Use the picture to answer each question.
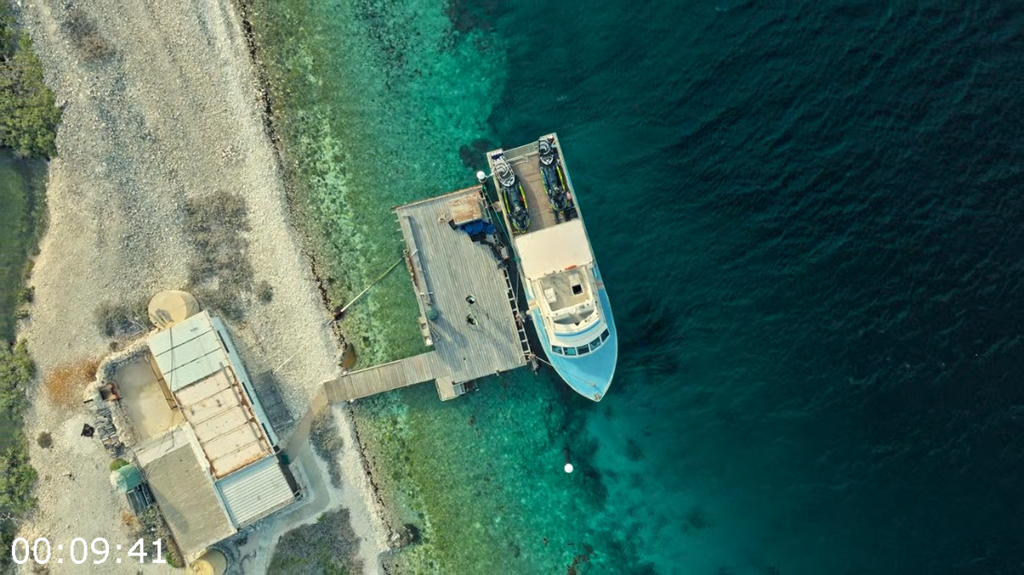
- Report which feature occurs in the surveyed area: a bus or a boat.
boat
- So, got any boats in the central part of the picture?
Yes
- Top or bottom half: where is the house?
bottom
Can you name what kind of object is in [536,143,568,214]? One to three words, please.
boat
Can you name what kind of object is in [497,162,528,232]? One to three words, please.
boat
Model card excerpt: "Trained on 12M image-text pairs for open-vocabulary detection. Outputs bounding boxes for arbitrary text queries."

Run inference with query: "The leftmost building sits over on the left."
[135,311,297,560]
